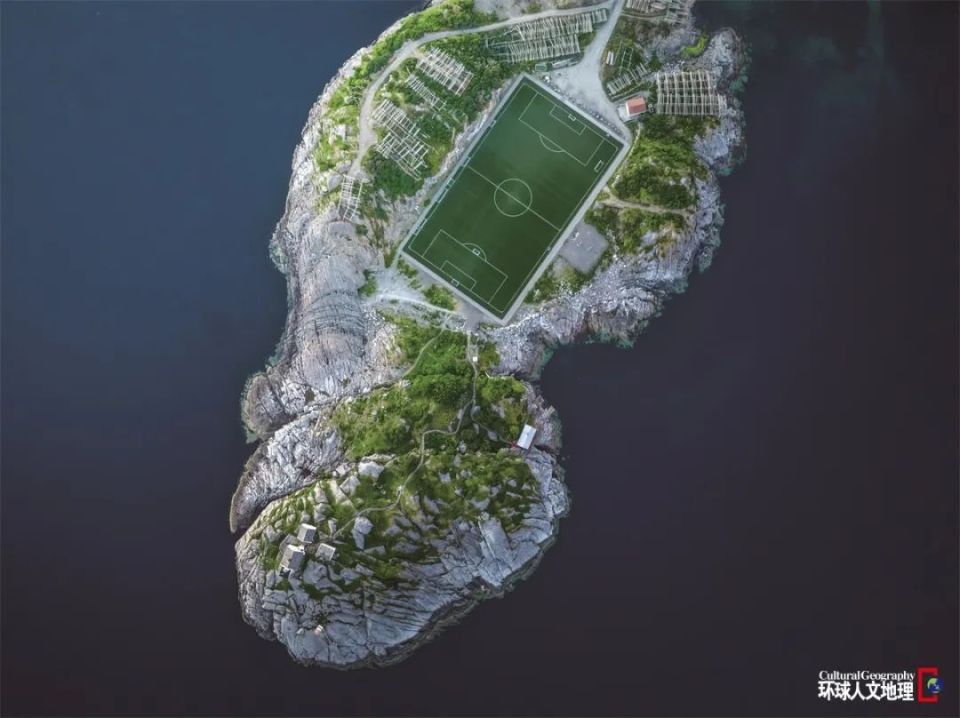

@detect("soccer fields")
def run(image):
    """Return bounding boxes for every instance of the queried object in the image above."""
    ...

[398,71,631,326]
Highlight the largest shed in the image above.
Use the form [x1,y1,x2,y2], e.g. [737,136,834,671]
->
[280,545,306,572]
